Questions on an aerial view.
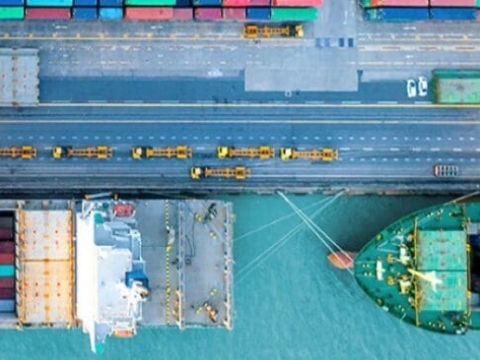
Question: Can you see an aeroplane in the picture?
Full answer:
No, there is no aeroplane in the image.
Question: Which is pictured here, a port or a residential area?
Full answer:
This looks like a port.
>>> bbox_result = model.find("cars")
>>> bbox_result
[407,78,418,97]
[418,77,428,95]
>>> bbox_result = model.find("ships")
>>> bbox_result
[0,195,236,352]
[328,197,480,336]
